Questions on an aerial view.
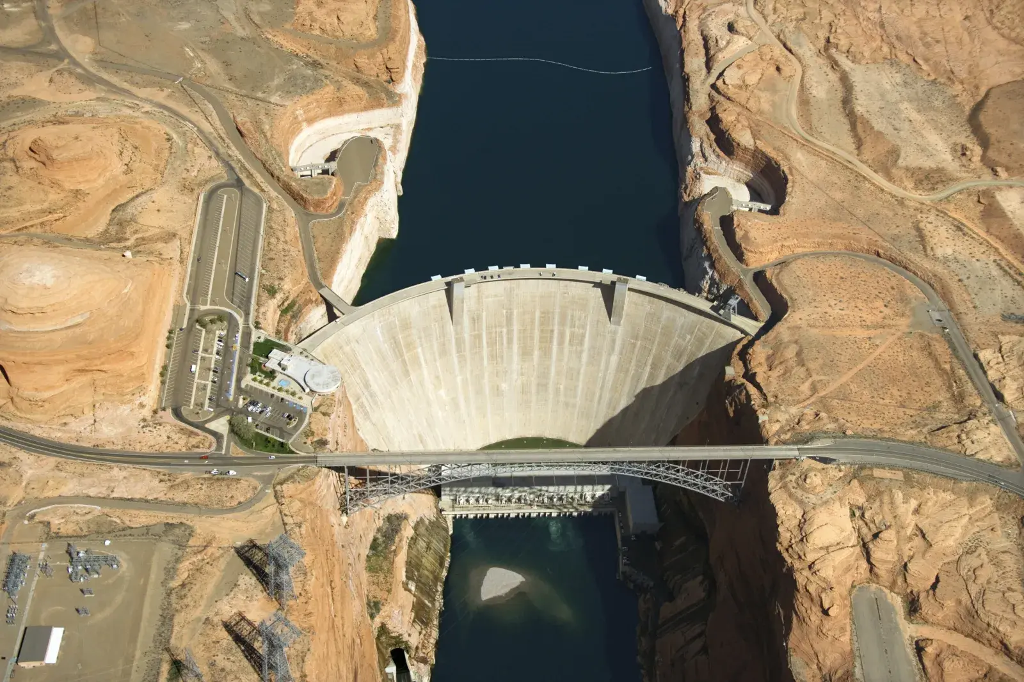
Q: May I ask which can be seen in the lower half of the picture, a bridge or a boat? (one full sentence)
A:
There is a bridge in the lower half of the picture.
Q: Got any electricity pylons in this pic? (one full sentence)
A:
Yes, an electricity pylon is visible in the scene.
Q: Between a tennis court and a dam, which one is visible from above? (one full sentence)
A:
Looking from above, you can make out a dam.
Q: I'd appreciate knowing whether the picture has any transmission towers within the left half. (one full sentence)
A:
Yes, looking within the left half, one can make out a transmission tower.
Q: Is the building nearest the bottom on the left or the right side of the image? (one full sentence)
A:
The building nearest the bottom appears in the left half of the scene.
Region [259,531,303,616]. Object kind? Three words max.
pylon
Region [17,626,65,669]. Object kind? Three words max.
building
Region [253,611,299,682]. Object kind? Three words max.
pylon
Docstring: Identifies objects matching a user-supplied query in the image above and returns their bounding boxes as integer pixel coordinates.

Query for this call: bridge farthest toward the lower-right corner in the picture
[313,445,802,517]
